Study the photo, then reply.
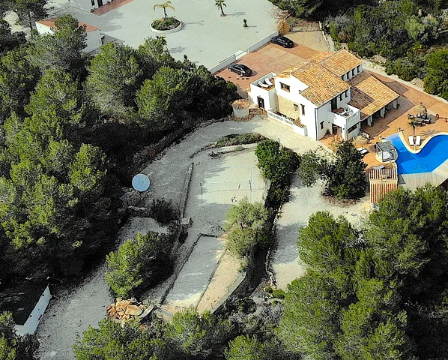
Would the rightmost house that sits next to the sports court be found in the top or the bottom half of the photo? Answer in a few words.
top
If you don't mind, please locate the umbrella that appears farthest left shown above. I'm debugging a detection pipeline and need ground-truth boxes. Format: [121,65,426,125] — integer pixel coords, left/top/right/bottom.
[354,128,370,144]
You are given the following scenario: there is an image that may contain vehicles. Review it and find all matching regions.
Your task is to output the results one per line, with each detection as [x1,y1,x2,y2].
[226,61,251,77]
[270,34,295,48]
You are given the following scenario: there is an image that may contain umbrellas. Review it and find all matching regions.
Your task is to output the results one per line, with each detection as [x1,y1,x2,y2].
[413,101,430,117]
[354,128,370,144]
